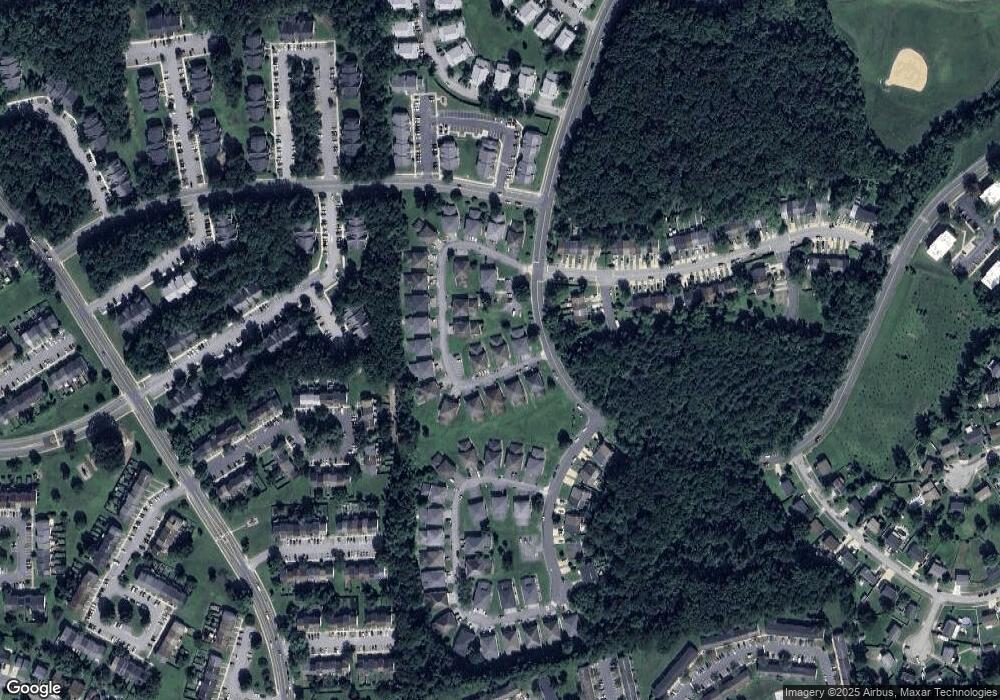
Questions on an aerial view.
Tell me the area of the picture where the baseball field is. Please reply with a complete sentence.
The baseball field appears toward the top right of the photo.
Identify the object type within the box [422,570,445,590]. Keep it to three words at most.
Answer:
house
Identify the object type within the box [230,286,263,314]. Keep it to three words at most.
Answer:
building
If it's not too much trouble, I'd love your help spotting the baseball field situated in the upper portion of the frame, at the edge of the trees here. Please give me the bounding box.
[876,40,940,103]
